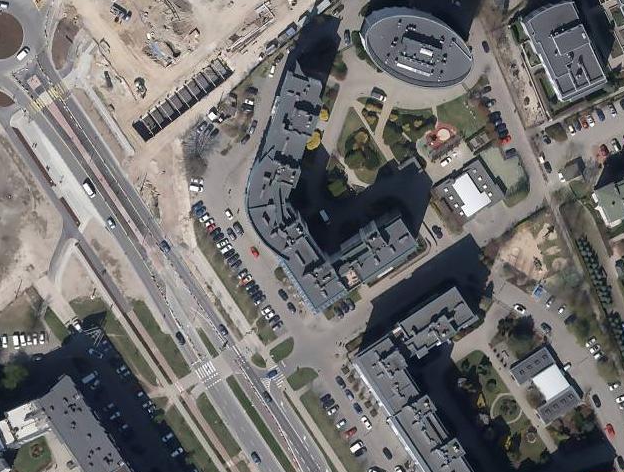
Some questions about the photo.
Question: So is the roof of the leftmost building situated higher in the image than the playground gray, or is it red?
gray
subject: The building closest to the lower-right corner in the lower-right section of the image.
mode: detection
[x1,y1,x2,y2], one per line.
[511,347,581,424]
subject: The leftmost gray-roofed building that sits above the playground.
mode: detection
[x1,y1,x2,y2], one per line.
[361,1,474,88]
